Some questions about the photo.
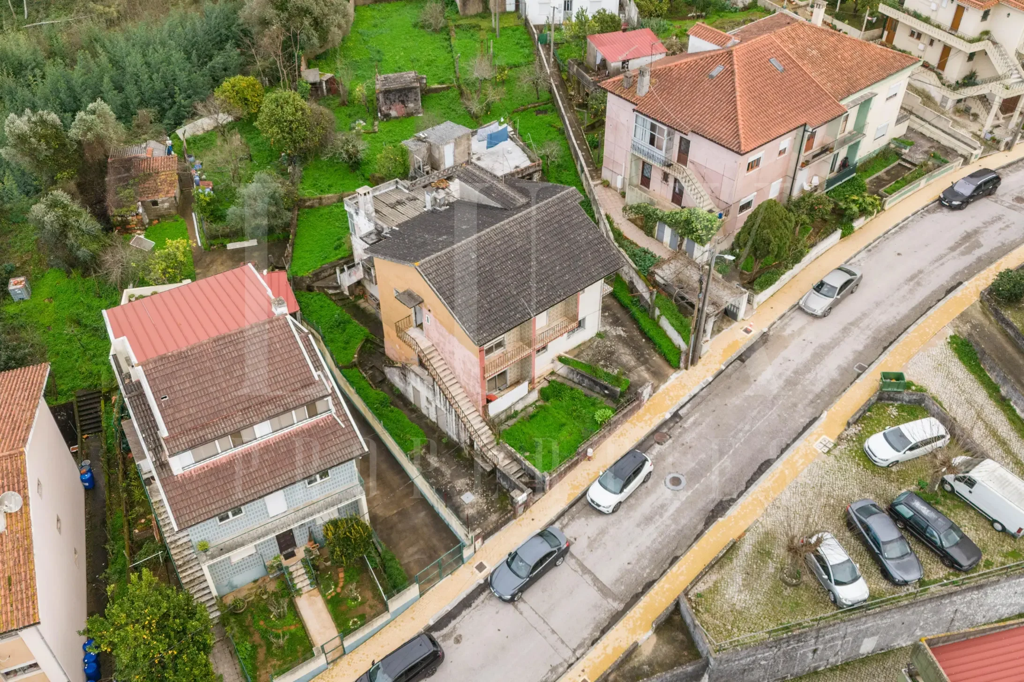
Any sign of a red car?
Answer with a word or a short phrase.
No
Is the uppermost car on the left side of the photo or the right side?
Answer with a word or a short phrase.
right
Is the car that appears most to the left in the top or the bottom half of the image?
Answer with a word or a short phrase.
bottom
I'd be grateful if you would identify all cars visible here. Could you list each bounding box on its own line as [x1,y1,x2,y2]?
[487,529,570,607]
[801,266,864,319]
[942,167,1005,210]
[806,535,868,612]
[587,450,654,517]
[844,499,923,587]
[360,632,445,682]
[890,494,979,572]
[867,415,952,466]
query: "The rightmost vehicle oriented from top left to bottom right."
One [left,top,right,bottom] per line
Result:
[940,459,1024,545]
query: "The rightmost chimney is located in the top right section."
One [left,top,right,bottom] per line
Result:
[811,2,830,25]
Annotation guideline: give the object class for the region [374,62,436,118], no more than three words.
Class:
shed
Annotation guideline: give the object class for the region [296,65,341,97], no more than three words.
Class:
shed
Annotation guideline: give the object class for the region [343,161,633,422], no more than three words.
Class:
house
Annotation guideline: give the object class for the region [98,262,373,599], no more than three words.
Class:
house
